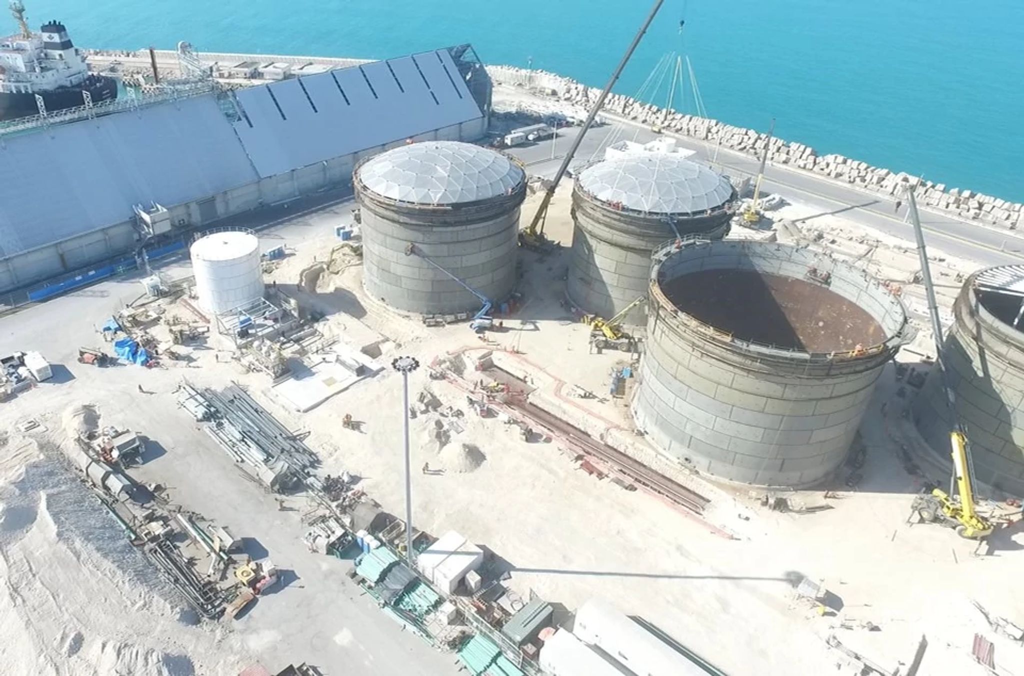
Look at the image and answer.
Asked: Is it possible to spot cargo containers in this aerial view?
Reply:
Yes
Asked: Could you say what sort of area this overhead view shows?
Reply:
industrial area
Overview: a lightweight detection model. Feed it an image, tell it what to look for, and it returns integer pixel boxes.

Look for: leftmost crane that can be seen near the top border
[520,0,683,261]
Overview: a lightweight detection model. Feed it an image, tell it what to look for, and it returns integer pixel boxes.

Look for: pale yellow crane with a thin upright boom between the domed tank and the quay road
[735,118,776,230]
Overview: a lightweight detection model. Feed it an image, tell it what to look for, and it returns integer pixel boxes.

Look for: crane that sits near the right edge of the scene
[896,179,1015,571]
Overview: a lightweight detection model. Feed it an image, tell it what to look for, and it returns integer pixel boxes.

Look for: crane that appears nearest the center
[585,297,646,363]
